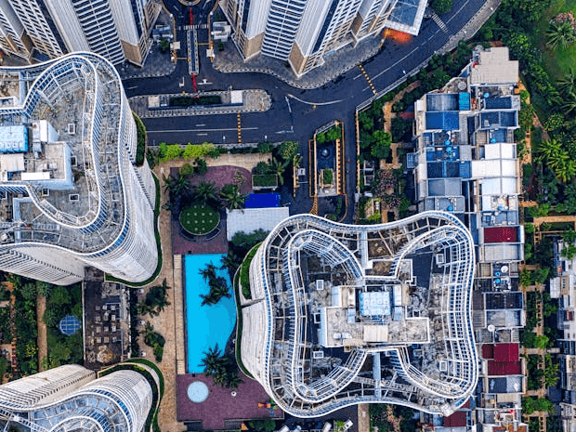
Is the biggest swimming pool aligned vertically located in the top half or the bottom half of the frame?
bottom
